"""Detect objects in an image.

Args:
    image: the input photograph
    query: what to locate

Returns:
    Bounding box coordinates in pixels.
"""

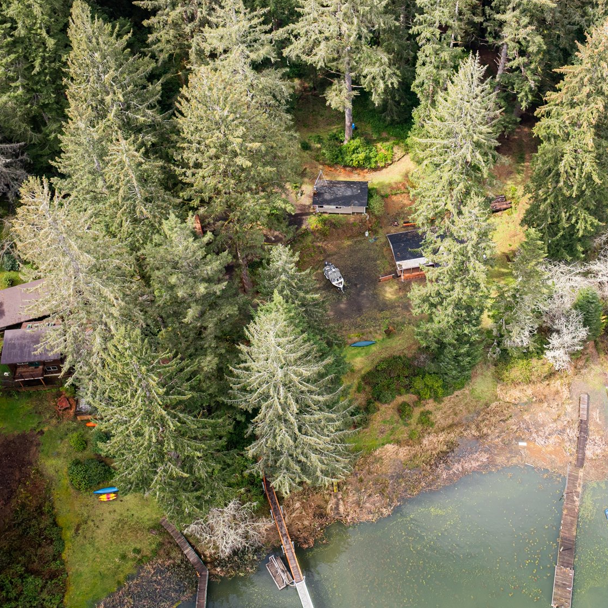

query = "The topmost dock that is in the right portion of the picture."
[557,394,587,566]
